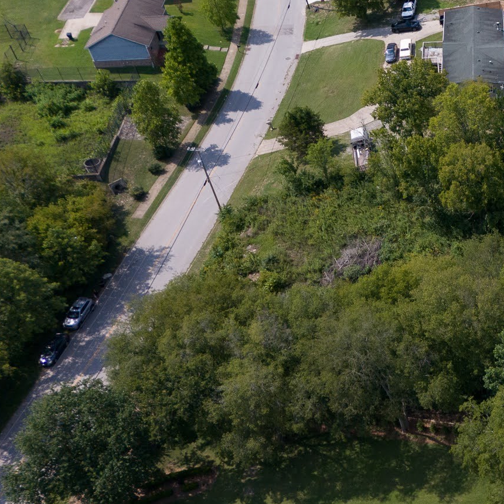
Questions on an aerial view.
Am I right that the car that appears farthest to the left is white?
No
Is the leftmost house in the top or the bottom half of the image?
top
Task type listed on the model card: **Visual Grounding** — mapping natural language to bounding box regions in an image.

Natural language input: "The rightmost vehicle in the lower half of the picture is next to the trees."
[57,294,100,332]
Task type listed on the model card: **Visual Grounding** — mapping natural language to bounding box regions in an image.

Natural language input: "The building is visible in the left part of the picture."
[80,0,177,70]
